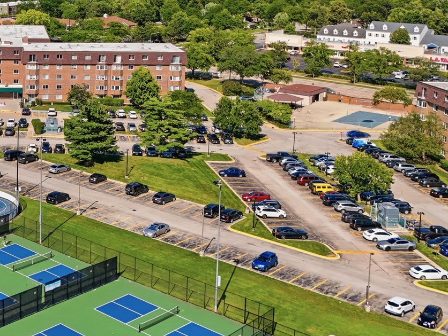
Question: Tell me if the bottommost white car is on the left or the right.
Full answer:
You can find the bottommost white car on the right side of the picture.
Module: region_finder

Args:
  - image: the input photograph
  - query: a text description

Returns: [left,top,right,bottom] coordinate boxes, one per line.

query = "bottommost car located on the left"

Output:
[143,223,171,239]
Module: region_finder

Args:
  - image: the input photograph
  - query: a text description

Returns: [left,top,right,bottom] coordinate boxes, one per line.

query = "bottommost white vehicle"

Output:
[384,297,414,319]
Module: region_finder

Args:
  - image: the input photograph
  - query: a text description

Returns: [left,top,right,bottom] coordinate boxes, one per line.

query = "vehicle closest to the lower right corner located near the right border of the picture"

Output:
[417,304,445,330]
